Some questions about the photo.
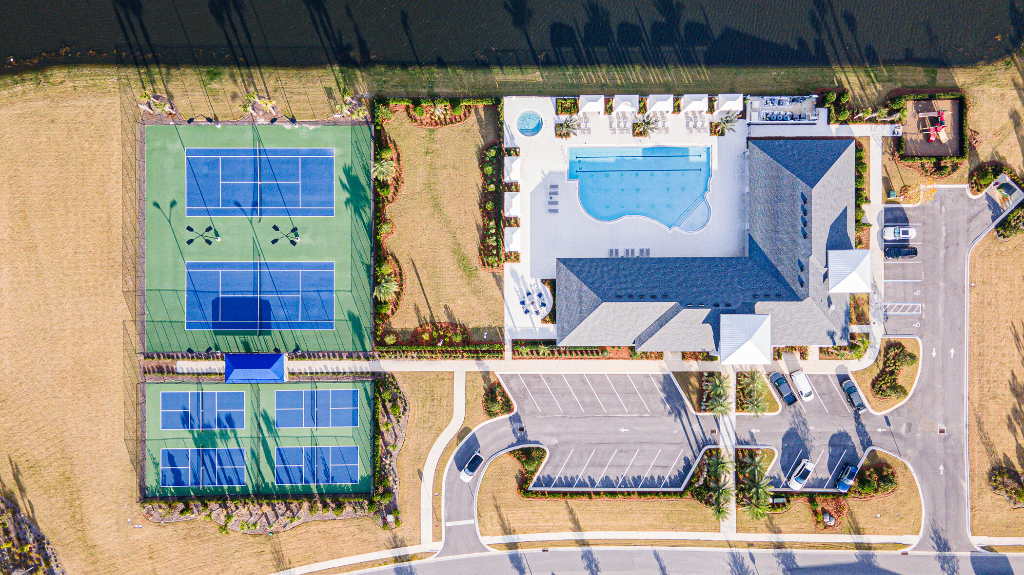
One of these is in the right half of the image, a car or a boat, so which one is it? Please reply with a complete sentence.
Visible in the right half of the image is a car.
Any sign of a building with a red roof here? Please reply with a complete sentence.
No, the frame has no building with a red roof in it.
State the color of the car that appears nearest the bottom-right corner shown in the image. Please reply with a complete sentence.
The car that appears nearest the bottom-right corner looks blue in the image.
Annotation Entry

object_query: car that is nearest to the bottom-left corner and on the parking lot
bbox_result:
[460,450,485,482]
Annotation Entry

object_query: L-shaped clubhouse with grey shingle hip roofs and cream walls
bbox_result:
[556,139,855,352]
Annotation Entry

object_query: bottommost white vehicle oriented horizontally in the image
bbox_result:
[882,225,915,240]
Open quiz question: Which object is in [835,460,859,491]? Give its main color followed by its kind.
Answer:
blue car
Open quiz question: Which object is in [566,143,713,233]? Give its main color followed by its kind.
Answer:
blue swimming pool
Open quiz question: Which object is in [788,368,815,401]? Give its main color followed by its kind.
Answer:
white vehicle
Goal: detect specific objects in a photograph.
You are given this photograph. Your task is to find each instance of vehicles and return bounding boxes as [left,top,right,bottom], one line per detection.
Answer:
[460,450,485,482]
[788,368,815,401]
[840,378,866,413]
[882,225,915,240]
[788,457,813,489]
[884,245,917,260]
[835,460,859,491]
[769,370,797,407]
